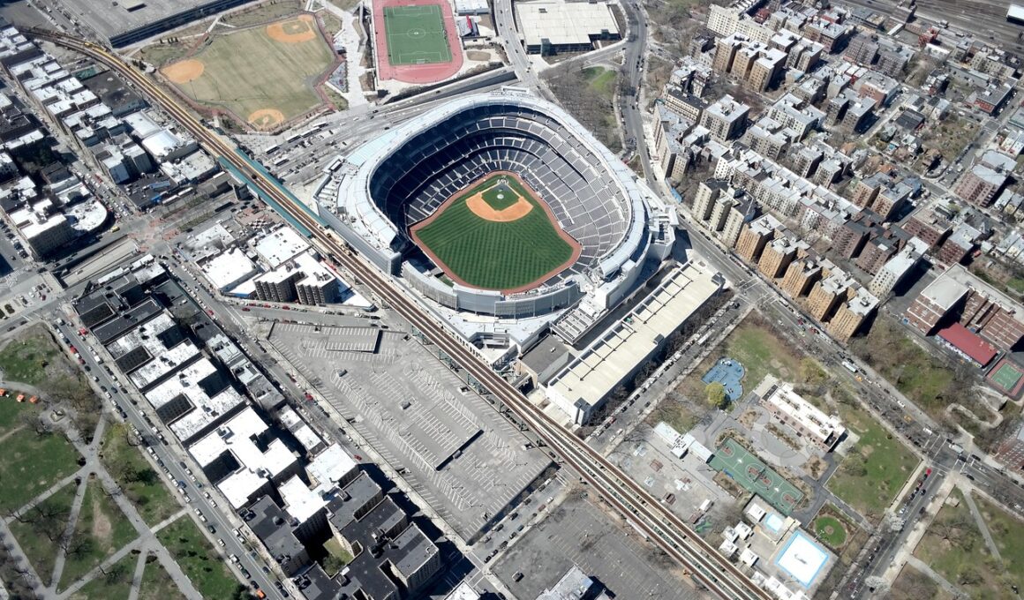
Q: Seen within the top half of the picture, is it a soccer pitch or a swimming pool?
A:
soccer pitch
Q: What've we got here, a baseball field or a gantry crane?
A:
baseball field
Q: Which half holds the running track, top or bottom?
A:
top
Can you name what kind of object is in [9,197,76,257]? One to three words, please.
building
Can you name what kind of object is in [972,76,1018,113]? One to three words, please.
building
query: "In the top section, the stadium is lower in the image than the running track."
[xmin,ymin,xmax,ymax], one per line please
[313,84,679,358]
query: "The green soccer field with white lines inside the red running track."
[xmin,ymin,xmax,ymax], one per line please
[383,5,452,65]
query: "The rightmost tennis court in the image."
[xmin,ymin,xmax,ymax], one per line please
[986,358,1024,397]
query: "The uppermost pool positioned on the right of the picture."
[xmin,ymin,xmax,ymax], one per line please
[762,511,785,535]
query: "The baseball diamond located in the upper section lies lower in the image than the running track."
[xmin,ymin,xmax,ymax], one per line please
[409,172,582,294]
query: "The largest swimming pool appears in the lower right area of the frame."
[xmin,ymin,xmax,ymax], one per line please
[774,530,831,590]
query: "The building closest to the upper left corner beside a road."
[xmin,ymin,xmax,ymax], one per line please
[0,26,39,75]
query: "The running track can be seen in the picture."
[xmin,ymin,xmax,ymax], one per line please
[372,0,463,83]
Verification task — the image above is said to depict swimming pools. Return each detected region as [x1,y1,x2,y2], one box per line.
[762,511,785,535]
[774,530,831,590]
